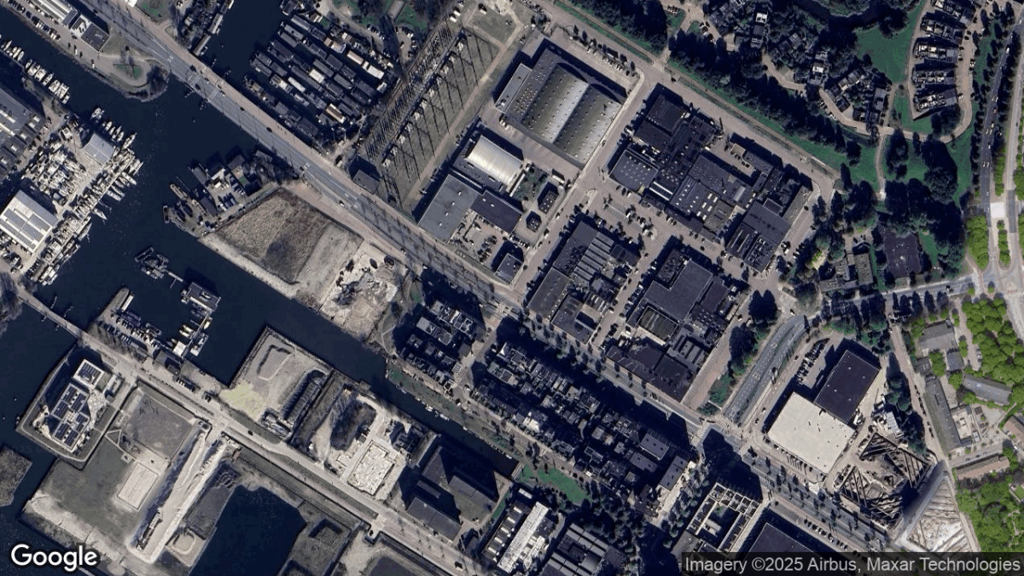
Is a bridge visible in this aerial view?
Yes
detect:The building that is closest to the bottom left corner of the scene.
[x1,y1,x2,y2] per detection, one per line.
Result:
[51,381,92,449]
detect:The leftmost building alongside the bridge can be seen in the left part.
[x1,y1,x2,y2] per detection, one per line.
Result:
[0,188,60,253]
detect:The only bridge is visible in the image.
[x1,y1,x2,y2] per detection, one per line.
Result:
[21,285,85,337]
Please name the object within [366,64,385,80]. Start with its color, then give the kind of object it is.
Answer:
white boat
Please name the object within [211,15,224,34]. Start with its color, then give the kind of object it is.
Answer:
gray boat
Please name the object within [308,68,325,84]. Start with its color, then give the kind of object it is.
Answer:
white boat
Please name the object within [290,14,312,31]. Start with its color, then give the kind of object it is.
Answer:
gray boat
